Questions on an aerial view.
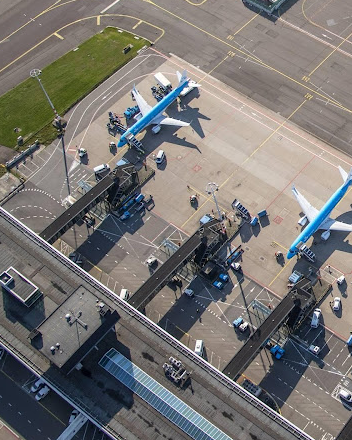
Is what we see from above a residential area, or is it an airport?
airport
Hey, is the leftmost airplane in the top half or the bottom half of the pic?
top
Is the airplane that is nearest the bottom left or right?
right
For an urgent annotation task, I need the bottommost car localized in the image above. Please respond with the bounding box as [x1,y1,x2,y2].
[66,408,80,424]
